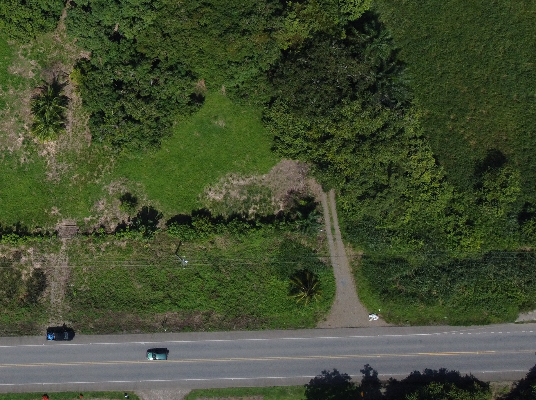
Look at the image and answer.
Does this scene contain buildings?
No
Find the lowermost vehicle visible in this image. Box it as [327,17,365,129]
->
[146,352,170,365]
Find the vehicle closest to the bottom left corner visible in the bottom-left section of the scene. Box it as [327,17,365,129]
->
[46,331,76,344]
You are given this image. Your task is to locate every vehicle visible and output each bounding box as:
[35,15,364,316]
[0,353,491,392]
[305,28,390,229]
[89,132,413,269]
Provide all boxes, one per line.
[146,352,170,365]
[46,331,76,344]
